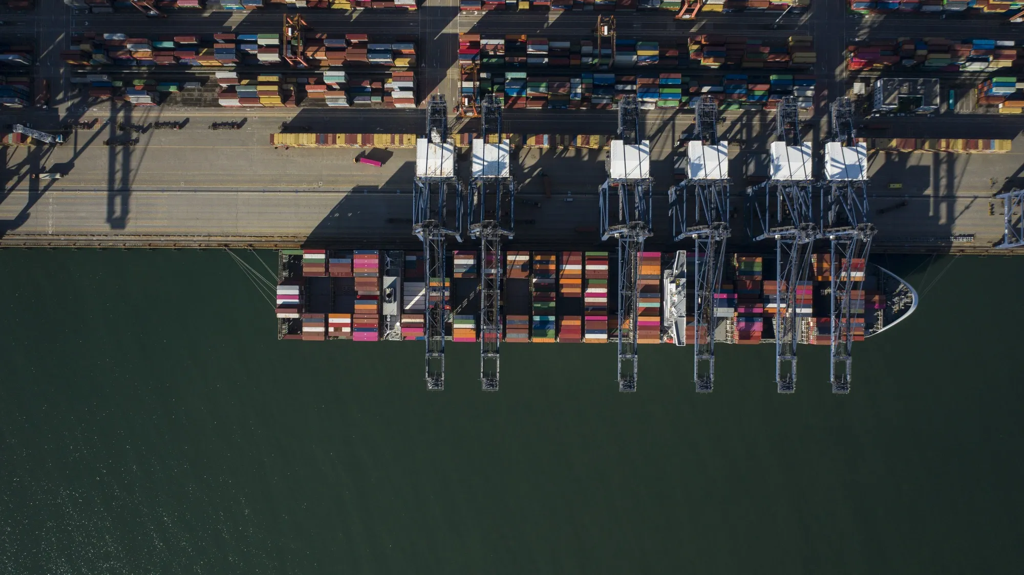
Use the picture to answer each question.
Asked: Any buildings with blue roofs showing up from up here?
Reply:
No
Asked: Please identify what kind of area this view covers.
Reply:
port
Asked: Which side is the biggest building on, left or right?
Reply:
right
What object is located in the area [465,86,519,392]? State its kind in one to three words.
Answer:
container crane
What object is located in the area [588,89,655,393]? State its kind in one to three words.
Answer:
container crane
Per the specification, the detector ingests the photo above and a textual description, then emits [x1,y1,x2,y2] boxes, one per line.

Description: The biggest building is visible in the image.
[874,78,940,115]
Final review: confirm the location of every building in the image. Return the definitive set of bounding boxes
[874,78,940,115]
[851,83,865,95]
